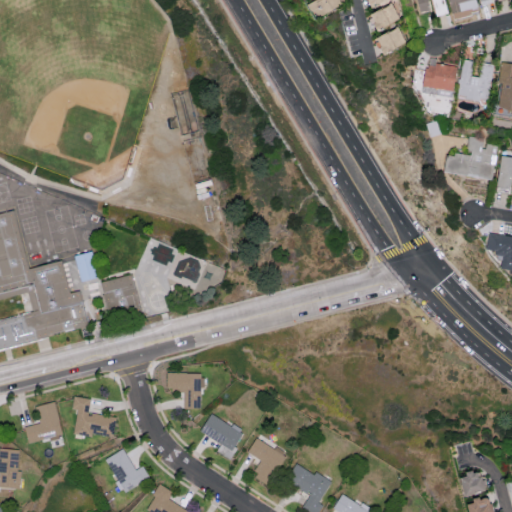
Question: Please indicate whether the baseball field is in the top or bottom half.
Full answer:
Seen from above, the baseball field lies in the top half of the view.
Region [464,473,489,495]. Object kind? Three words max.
house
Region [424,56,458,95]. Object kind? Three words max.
house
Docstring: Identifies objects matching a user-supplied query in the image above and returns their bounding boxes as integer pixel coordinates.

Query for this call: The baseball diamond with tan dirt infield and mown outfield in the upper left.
[0,0,167,189]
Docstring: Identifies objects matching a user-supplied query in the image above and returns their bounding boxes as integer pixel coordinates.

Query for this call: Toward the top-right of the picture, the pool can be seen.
[456,99,486,116]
